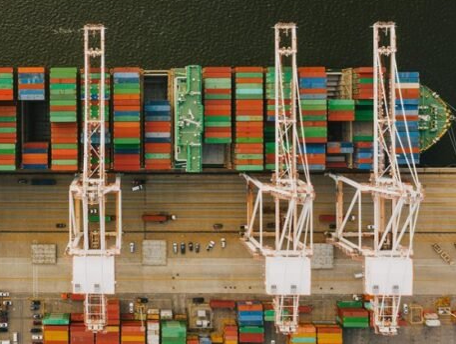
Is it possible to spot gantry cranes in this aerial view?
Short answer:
Yes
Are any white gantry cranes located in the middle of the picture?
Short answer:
Yes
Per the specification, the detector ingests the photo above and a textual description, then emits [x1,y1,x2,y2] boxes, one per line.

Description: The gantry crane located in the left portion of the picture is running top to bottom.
[63,23,129,331]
